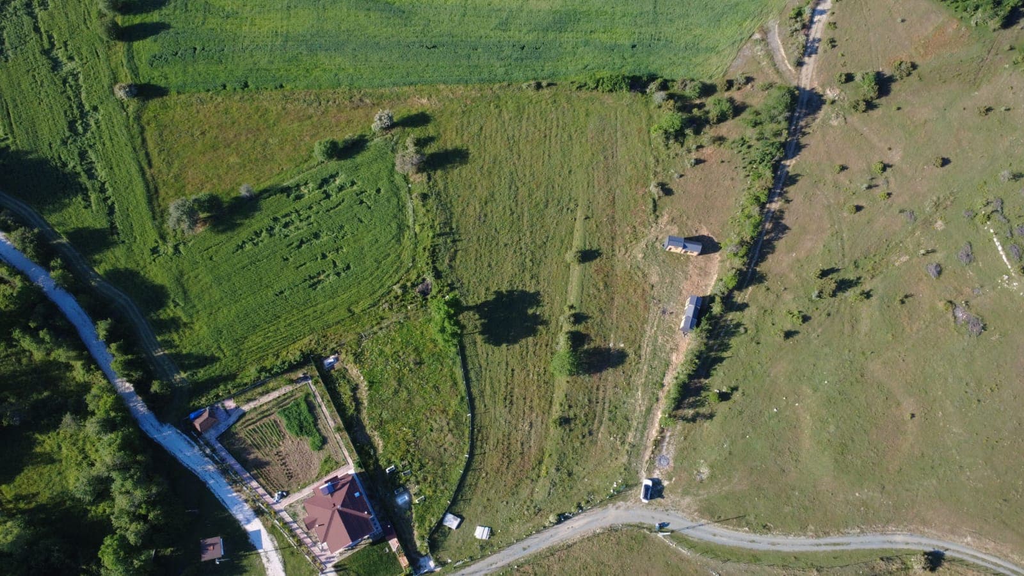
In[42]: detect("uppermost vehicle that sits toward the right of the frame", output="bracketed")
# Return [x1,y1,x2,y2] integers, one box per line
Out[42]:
[639,476,656,504]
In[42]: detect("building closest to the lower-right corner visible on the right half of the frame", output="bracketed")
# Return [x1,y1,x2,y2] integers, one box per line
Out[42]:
[681,294,703,336]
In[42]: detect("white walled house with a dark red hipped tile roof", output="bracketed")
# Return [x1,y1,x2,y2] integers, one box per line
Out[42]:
[302,474,386,555]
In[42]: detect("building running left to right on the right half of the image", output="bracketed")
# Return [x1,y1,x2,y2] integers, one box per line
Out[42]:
[661,232,704,255]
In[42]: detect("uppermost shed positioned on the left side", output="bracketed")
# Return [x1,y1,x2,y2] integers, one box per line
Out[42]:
[194,409,222,434]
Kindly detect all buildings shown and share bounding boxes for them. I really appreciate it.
[201,536,228,561]
[302,474,386,555]
[661,232,704,255]
[681,294,703,336]
[194,409,222,434]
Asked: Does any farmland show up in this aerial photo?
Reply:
Yes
